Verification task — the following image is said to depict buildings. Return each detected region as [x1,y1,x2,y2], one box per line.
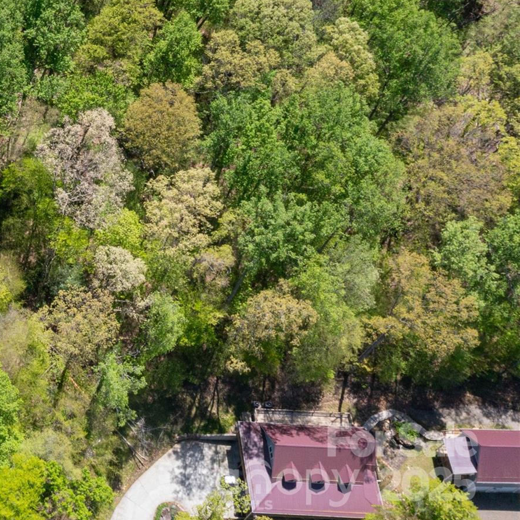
[416,428,520,492]
[230,407,386,520]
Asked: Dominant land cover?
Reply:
trees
